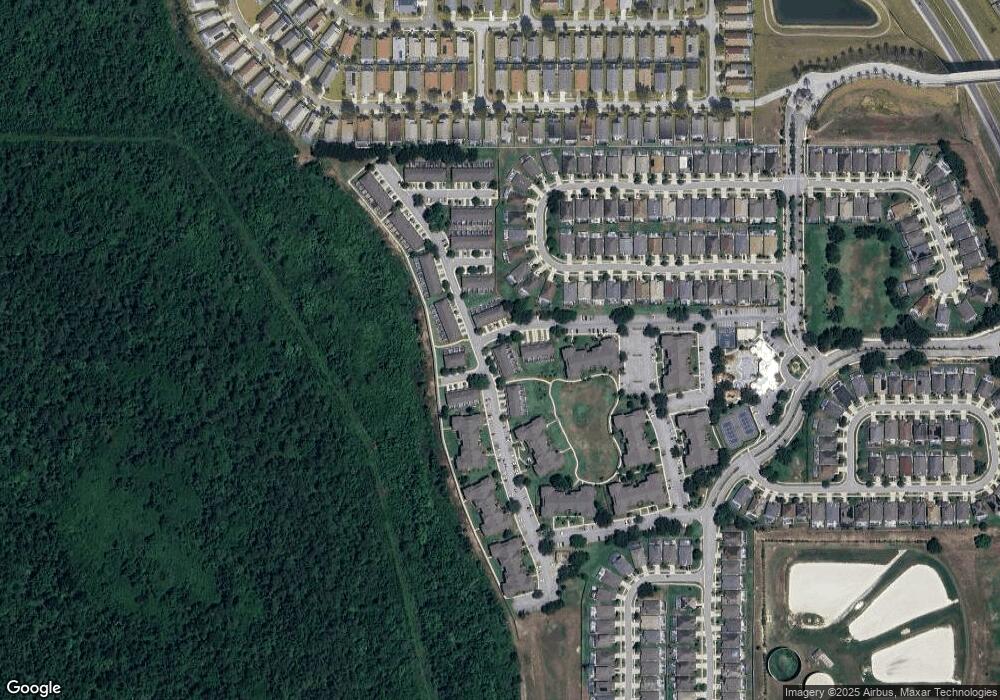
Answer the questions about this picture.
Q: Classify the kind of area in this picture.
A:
residential area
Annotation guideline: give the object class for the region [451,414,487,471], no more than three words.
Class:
building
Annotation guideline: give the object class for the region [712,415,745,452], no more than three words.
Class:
tennis court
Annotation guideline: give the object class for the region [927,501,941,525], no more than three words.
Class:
house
